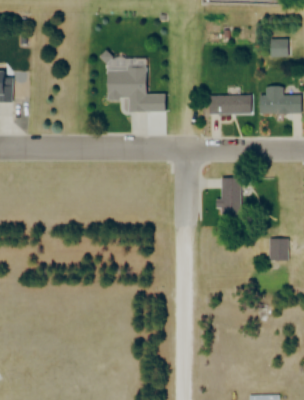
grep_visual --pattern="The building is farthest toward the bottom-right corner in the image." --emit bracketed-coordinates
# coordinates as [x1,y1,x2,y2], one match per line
[271,240,290,260]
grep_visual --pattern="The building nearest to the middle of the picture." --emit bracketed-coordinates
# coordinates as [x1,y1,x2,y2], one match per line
[214,178,242,224]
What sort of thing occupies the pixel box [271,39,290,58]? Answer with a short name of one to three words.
building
